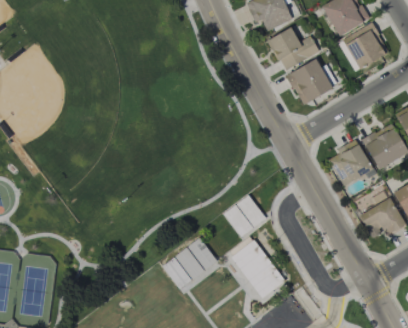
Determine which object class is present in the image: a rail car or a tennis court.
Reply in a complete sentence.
The one in the frame is a tennis court.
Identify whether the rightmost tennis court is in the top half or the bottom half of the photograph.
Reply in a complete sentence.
The rightmost tennis court sits in the bottom half of the picture.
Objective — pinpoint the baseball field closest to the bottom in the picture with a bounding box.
[0,18,120,204]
